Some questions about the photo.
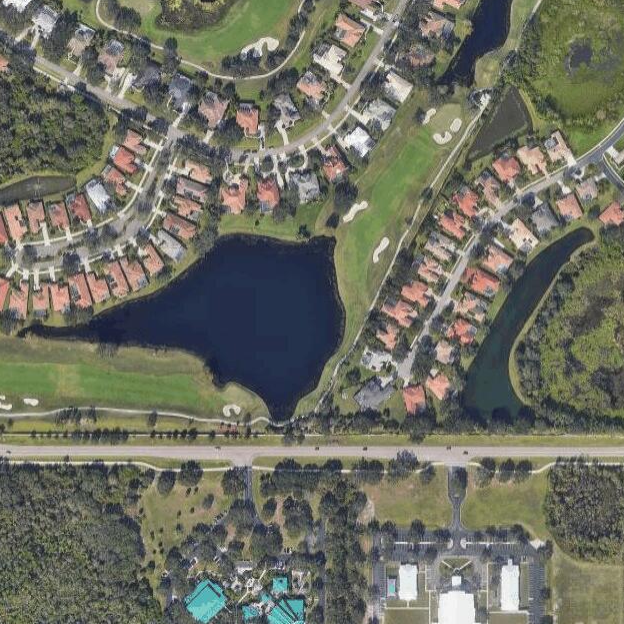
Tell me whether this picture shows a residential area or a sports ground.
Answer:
residential area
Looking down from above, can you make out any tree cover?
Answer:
Yes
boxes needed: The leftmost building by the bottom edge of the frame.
[184,579,228,623]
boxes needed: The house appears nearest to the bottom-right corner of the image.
[501,559,520,610]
